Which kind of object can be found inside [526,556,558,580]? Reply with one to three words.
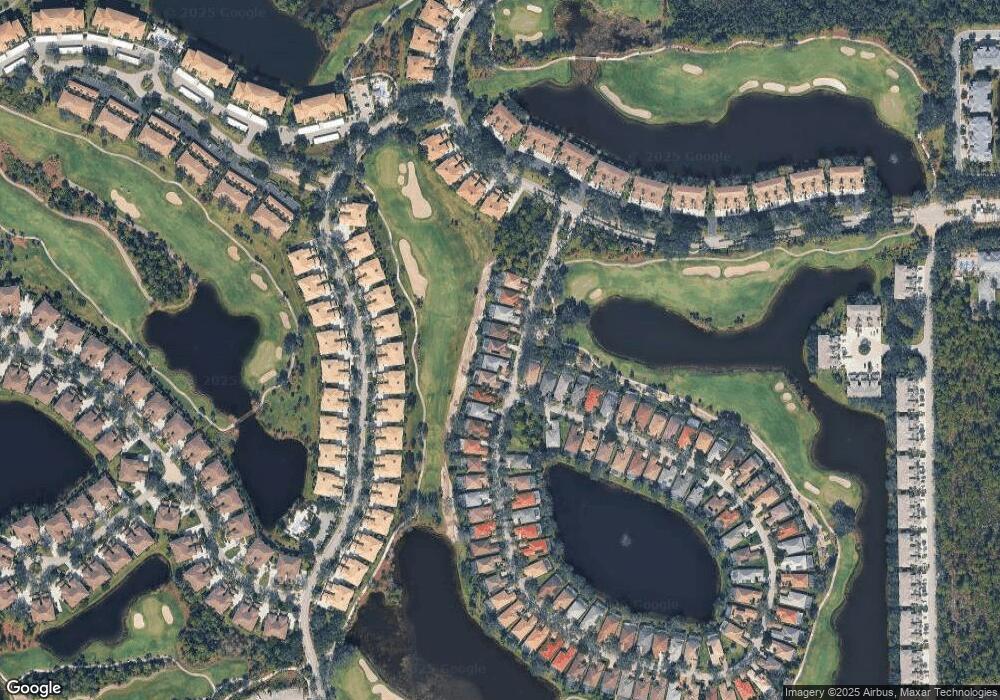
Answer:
house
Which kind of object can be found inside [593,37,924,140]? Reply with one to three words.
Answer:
golf course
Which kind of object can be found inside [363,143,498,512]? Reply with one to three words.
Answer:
golf course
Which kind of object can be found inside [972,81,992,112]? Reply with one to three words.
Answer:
building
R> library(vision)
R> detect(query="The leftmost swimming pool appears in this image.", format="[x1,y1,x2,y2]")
[148,26,182,53]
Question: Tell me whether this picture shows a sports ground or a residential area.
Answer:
residential area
